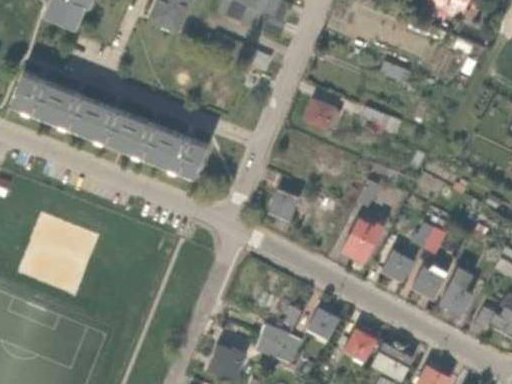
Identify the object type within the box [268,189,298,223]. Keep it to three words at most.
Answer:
house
